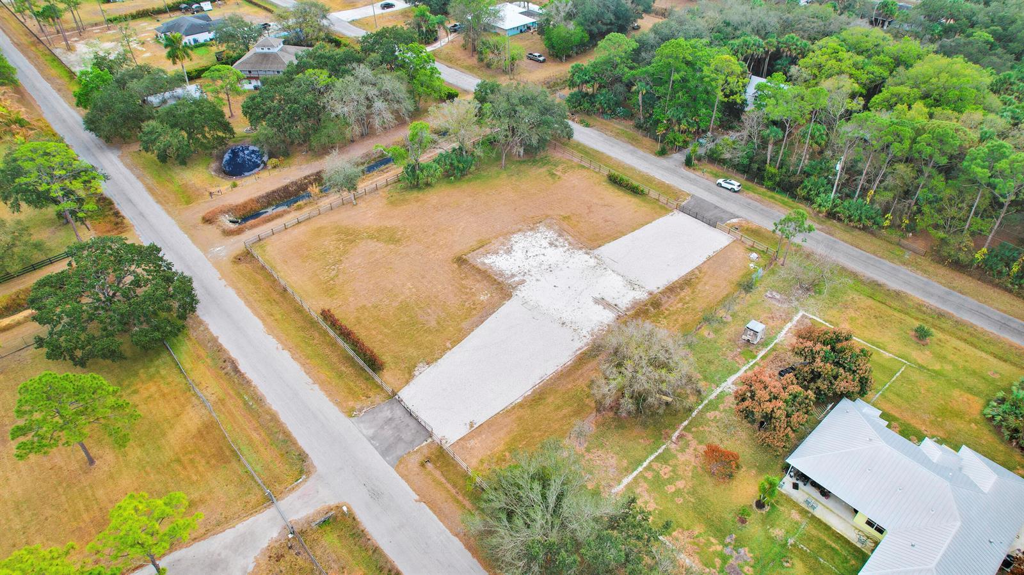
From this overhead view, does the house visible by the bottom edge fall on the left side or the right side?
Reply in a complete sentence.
It is on the right.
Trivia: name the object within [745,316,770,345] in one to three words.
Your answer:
shed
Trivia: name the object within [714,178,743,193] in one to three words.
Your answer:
car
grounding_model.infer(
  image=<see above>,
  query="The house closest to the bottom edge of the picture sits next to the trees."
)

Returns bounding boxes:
[785,397,1024,575]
